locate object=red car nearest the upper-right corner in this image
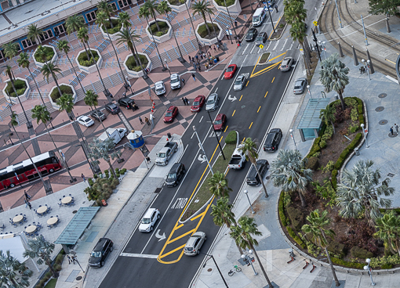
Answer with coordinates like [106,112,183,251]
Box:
[223,65,239,80]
